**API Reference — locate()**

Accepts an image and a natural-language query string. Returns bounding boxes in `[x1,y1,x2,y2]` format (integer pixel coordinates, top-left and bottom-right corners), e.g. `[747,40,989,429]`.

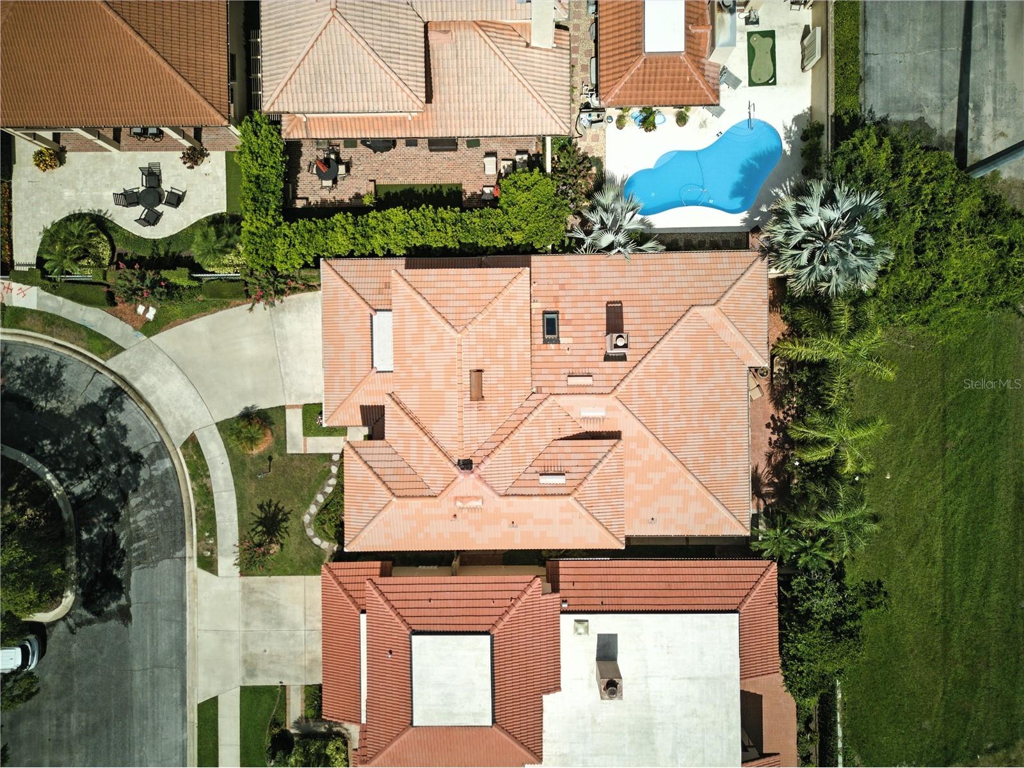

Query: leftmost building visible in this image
[0,0,245,151]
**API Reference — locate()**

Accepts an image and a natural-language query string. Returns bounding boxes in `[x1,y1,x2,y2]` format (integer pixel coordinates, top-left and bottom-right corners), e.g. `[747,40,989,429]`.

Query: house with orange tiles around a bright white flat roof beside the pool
[596,0,736,114]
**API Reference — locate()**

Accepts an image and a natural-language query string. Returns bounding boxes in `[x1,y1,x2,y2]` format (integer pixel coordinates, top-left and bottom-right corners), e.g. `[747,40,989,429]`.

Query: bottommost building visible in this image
[320,553,797,768]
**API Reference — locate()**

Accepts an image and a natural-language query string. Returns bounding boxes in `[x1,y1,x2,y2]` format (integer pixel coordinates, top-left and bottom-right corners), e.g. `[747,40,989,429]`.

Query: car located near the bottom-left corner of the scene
[0,629,42,674]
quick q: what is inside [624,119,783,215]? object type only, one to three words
swimming pool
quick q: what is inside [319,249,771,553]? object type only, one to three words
house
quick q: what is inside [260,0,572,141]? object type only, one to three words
house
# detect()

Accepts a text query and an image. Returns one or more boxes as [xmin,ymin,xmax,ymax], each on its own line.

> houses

[260,0,572,141]
[0,0,245,151]
[596,0,736,114]
[319,249,771,553]
[320,553,797,768]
